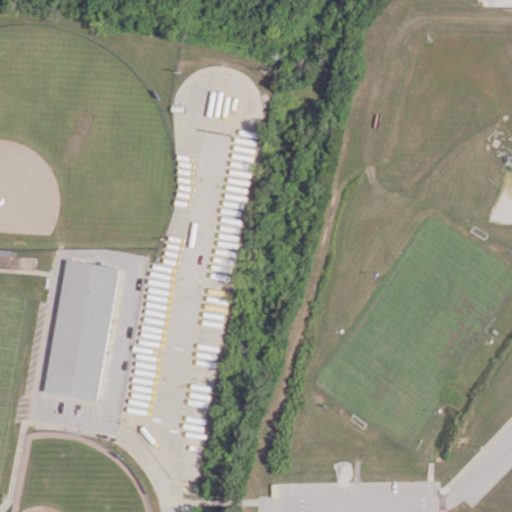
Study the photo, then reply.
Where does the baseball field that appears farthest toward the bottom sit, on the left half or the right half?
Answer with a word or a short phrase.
left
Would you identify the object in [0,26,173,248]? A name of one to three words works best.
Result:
baseball field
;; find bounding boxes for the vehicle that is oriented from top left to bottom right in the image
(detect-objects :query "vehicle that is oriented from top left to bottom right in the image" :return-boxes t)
[140,426,158,448]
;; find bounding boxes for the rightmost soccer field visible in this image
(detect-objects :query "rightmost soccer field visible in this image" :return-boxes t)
[322,220,512,444]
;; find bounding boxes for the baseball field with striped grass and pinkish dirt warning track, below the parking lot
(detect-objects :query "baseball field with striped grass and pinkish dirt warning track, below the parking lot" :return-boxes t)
[13,432,150,512]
